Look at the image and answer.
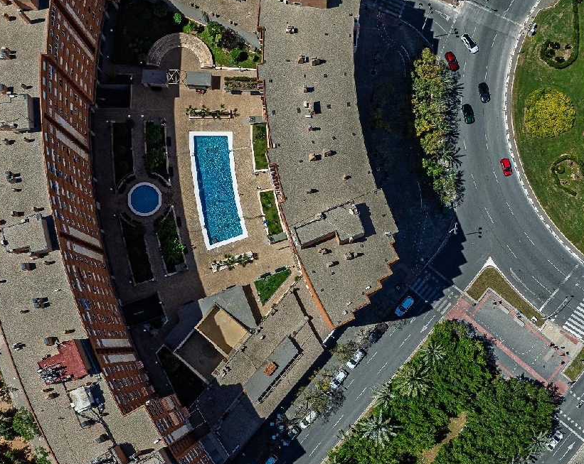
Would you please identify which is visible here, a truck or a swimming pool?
swimming pool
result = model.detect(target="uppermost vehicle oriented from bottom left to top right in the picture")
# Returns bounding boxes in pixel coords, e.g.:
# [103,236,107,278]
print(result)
[396,294,415,316]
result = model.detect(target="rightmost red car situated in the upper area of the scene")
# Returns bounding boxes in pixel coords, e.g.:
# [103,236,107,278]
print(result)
[501,156,513,177]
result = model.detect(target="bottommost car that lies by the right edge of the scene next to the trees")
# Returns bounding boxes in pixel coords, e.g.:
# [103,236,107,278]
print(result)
[547,430,566,453]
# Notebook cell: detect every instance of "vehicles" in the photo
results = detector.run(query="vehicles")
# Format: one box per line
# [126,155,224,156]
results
[547,430,566,453]
[443,48,458,72]
[330,368,349,391]
[460,30,478,54]
[299,410,319,432]
[262,454,278,464]
[478,80,490,103]
[462,102,475,123]
[279,424,300,448]
[346,347,365,370]
[396,294,415,316]
[501,156,513,177]
[365,325,382,344]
